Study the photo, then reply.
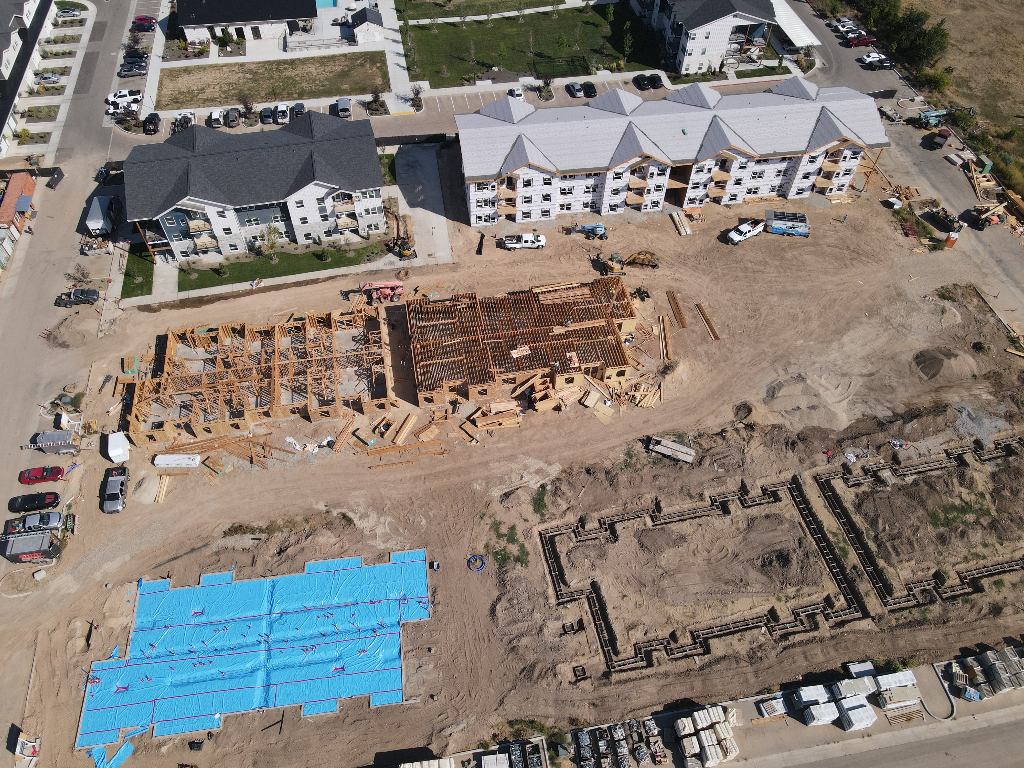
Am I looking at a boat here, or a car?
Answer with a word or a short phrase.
car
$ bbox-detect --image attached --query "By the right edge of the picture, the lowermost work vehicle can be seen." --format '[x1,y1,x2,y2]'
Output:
[972,193,1021,230]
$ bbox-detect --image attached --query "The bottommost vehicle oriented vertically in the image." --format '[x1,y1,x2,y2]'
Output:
[102,466,130,514]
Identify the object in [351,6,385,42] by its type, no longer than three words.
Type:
building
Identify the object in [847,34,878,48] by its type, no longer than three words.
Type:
vehicle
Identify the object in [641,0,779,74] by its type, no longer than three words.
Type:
building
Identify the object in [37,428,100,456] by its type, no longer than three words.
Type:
trailer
